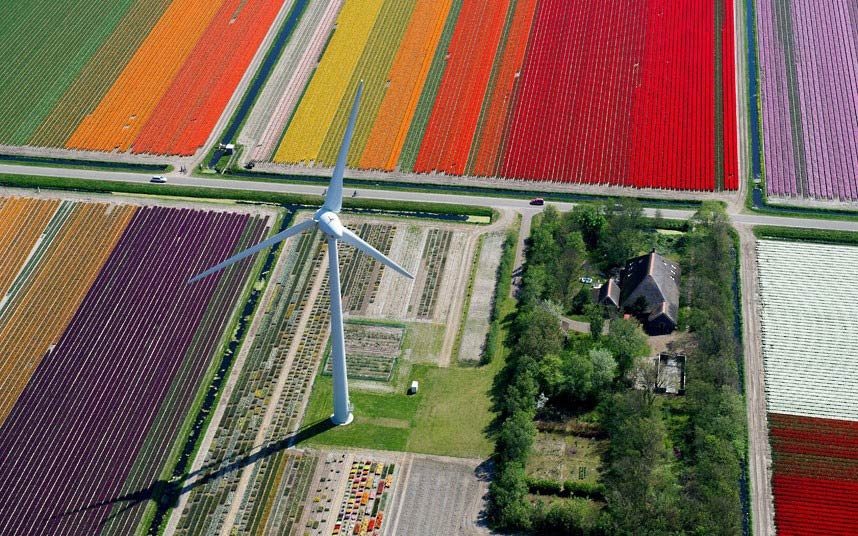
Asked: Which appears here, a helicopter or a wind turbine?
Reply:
wind turbine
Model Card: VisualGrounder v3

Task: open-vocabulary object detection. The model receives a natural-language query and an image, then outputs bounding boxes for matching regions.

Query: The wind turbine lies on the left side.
[191,85,412,429]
